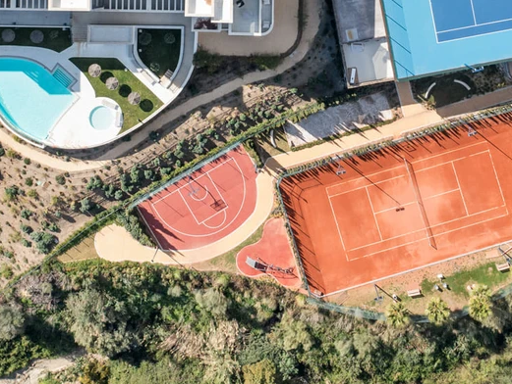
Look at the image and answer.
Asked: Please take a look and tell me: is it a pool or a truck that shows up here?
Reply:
pool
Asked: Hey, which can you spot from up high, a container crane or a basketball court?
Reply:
basketball court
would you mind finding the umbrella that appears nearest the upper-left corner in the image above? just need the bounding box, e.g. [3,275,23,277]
[2,29,16,41]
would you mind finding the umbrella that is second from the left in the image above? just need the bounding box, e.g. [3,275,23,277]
[31,30,44,43]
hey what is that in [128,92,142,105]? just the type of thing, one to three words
umbrella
